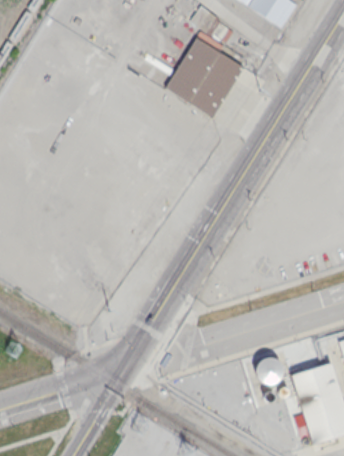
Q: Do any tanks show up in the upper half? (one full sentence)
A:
No, no tank can be made out in the upper half.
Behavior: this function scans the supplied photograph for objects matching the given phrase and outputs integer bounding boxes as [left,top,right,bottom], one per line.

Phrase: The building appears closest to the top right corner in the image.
[248,0,297,28]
